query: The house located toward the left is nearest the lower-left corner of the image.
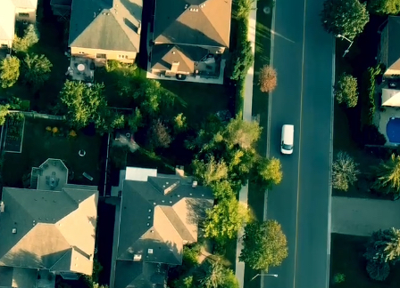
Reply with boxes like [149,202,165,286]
[0,184,99,288]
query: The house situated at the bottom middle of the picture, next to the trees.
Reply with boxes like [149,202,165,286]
[113,164,213,288]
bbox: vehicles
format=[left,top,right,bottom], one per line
[281,123,294,157]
